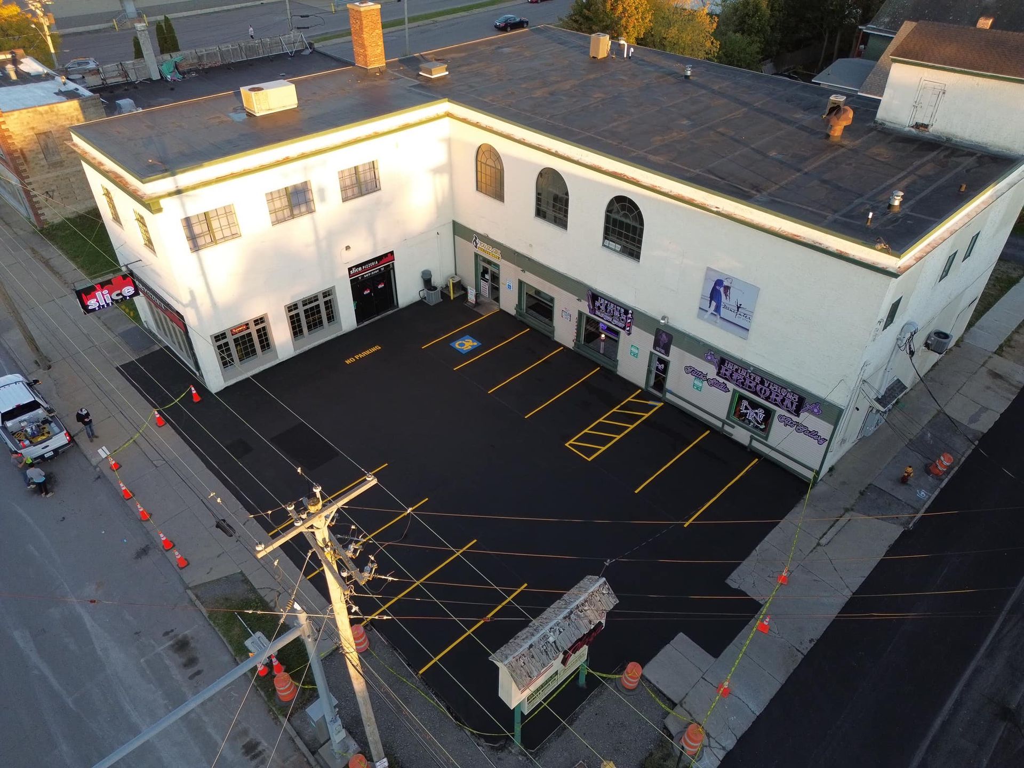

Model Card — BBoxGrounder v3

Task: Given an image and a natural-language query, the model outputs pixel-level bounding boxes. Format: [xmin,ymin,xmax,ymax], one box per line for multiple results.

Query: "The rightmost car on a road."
[498,11,522,26]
